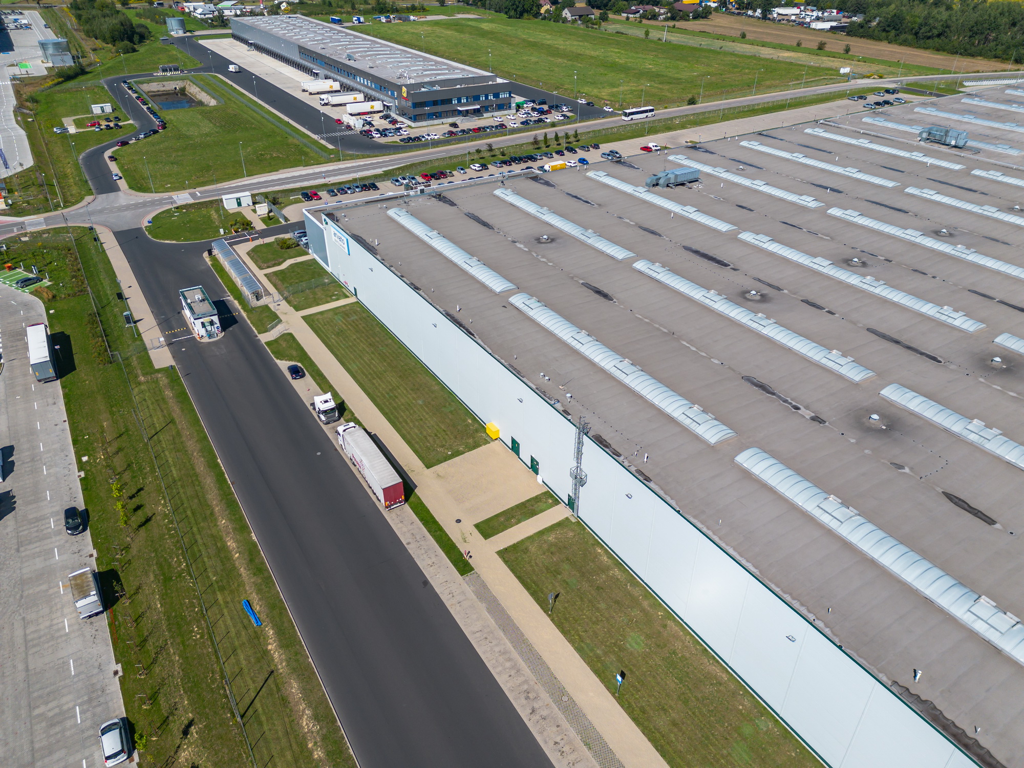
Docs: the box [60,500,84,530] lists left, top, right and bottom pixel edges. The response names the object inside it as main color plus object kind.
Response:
black car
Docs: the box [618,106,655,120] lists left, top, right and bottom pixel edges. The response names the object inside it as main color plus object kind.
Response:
white vehicle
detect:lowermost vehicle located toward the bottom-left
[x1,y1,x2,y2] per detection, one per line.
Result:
[93,714,127,764]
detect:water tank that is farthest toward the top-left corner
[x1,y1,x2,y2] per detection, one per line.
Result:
[39,41,75,64]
